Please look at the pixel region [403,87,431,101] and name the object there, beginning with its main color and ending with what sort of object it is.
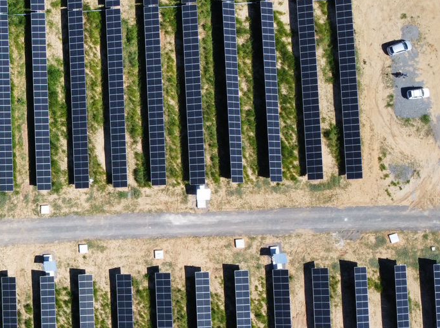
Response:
white car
